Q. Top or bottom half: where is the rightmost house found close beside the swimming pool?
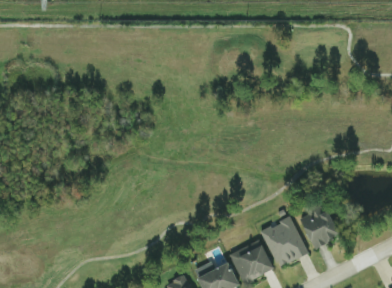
bottom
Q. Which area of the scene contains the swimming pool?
bottom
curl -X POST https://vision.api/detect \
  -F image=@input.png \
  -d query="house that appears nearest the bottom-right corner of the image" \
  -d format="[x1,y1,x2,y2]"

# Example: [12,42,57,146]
[301,210,339,251]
